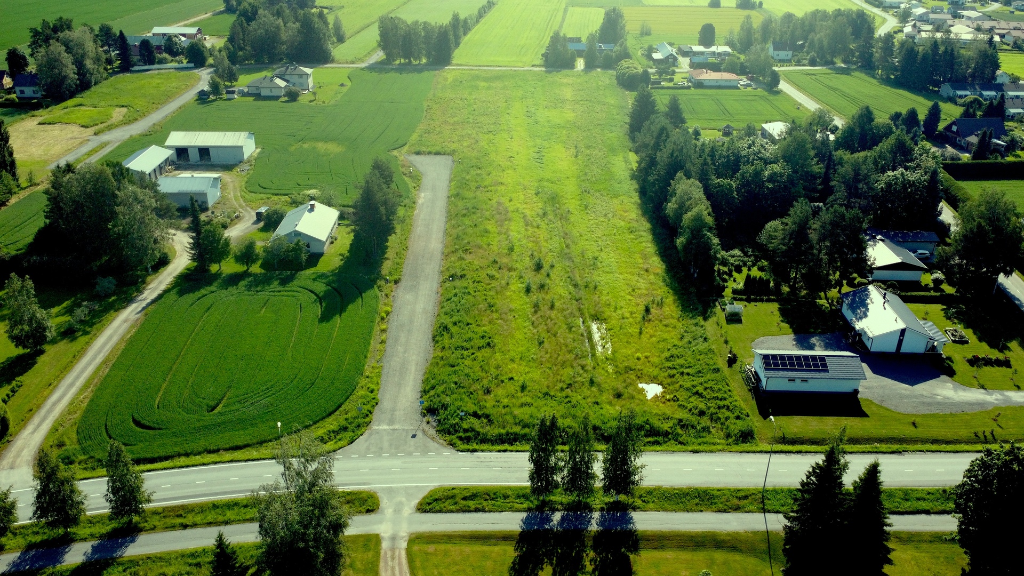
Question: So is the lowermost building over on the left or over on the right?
right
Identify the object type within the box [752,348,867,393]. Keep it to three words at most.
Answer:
building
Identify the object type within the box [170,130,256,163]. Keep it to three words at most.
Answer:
barn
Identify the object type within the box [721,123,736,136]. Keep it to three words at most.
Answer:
gazebo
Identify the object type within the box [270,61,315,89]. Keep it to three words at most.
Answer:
house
